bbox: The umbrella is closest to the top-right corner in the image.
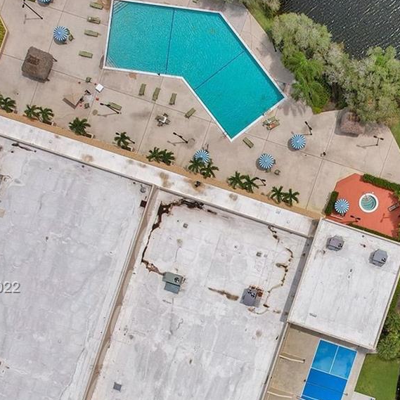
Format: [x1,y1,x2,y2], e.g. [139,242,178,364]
[290,134,307,151]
